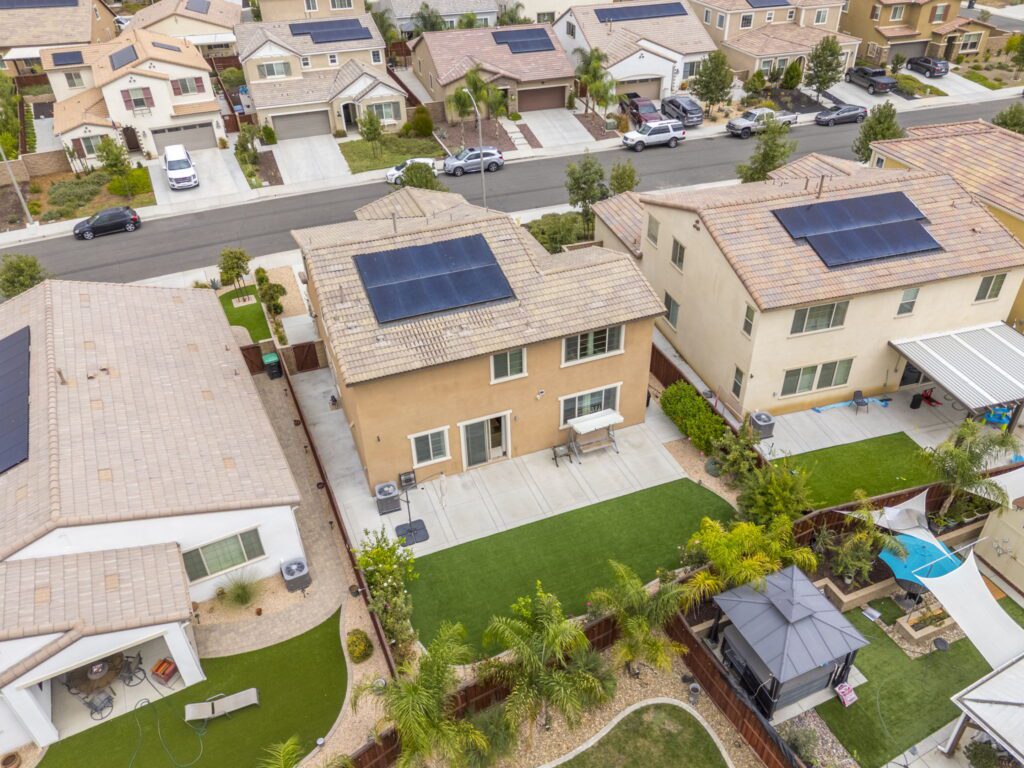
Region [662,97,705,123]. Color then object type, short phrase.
gray car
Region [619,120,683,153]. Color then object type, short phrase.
white car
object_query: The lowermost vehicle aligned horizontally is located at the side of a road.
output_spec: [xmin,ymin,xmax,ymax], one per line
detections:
[77,206,143,240]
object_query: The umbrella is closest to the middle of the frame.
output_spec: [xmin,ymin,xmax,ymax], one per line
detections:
[390,474,448,550]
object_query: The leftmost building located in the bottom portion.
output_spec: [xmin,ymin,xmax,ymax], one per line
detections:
[0,280,312,749]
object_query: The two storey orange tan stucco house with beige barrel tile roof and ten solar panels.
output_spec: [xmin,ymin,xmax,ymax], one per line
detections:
[289,188,671,496]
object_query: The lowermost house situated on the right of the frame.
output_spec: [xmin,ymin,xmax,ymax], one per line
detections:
[980,493,1024,602]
